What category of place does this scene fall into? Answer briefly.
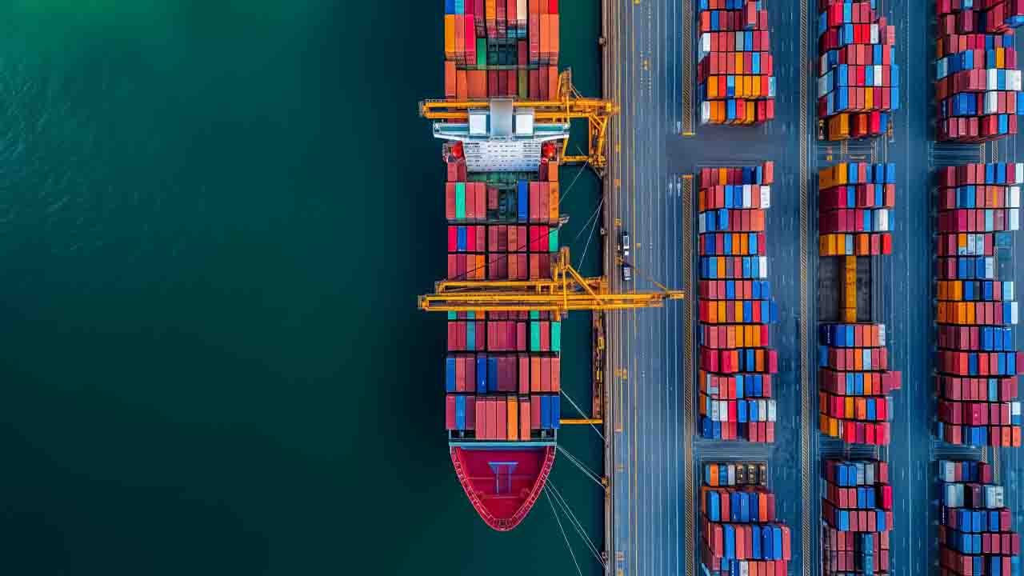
port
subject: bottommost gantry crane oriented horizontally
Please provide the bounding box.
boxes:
[417,262,685,323]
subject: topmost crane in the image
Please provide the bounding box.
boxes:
[419,67,618,177]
